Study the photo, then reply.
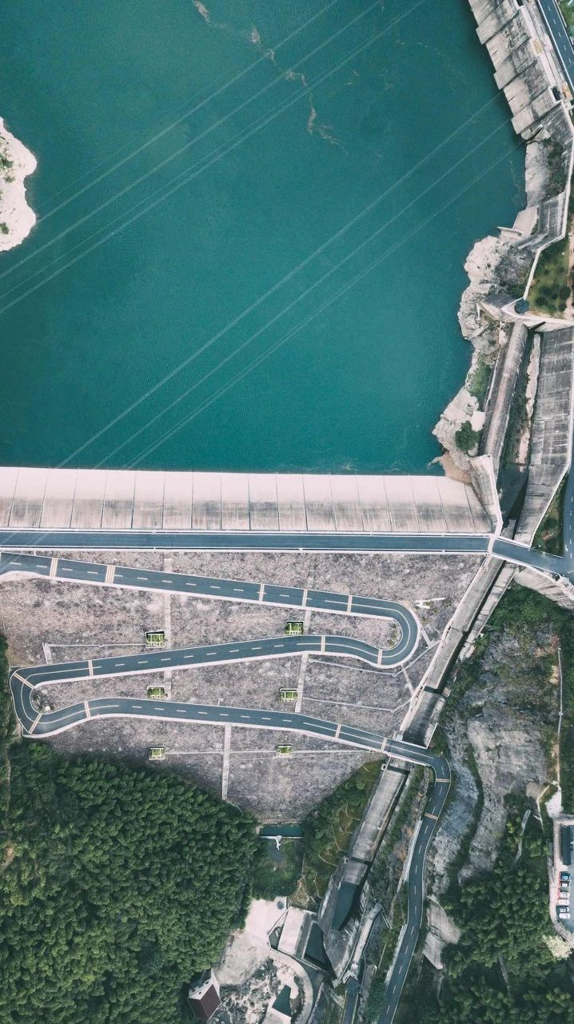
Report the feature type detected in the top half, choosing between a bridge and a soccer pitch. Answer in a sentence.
What appears in the top half is a bridge.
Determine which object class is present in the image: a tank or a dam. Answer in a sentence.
The image shows a dam.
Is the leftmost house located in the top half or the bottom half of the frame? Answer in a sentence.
The leftmost house sits in the bottom half of the picture.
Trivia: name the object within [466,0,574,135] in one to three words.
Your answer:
dam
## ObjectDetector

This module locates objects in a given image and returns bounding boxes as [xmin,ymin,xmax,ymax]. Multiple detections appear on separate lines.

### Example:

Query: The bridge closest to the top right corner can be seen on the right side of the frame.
[478,293,574,333]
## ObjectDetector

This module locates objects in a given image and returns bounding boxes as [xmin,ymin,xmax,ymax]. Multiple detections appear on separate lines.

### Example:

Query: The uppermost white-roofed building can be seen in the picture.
[277,900,330,975]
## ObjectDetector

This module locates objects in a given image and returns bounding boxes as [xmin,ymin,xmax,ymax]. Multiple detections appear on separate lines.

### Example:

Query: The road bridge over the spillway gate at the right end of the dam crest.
[487,536,574,602]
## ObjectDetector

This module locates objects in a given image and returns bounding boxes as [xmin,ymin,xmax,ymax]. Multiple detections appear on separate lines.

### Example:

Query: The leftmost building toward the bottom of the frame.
[188,974,223,1020]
